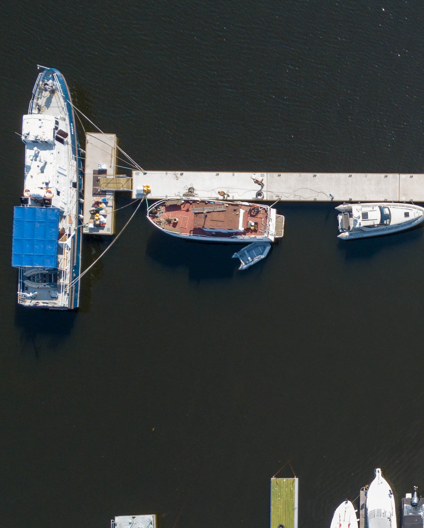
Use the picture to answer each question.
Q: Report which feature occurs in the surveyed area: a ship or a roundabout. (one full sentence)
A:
It is a ship that can be seen here.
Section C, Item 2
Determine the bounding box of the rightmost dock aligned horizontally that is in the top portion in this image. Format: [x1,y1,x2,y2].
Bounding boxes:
[131,170,424,204]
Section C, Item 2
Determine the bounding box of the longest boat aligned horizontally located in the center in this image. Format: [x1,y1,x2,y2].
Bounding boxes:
[146,197,286,243]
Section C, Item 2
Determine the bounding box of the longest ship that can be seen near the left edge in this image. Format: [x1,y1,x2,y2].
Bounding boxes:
[11,64,137,309]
